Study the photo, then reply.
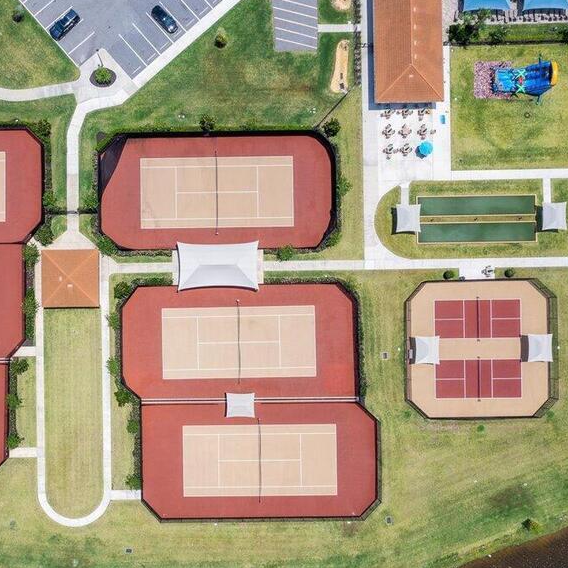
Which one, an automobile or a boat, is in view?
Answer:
automobile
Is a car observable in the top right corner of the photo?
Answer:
No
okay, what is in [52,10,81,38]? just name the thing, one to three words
car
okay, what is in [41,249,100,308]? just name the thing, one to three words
building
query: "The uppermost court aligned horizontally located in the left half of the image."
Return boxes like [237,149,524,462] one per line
[100,136,331,248]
